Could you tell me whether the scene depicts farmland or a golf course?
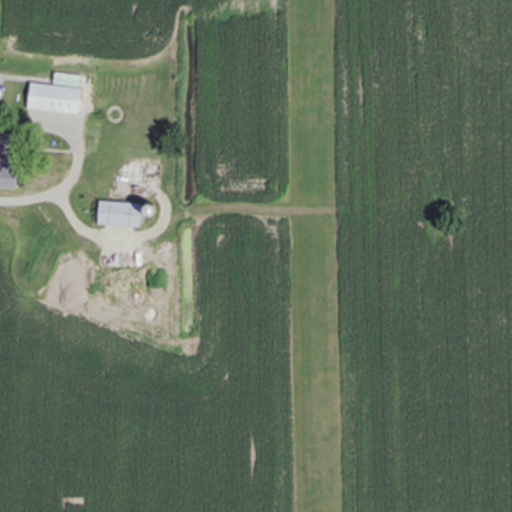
farmland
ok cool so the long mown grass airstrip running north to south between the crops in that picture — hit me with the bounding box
[288,0,342,512]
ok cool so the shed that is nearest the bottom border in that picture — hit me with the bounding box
[97,200,142,228]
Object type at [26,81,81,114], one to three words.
barn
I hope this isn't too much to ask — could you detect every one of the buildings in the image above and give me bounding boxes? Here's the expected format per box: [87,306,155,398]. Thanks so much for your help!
[97,200,142,228]
[26,81,81,114]
[0,130,16,190]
